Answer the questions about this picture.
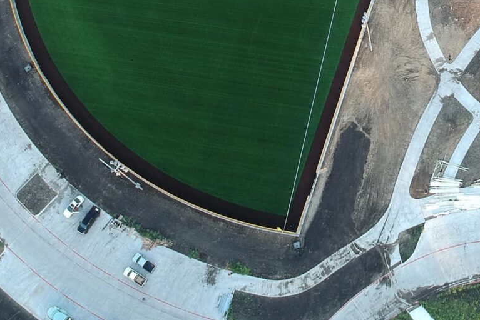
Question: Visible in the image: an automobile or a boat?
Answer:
automobile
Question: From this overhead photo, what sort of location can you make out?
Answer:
sports ground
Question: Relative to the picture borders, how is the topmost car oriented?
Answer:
on a diagonal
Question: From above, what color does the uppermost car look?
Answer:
white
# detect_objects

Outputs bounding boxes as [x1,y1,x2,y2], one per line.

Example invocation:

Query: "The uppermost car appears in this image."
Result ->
[61,192,83,219]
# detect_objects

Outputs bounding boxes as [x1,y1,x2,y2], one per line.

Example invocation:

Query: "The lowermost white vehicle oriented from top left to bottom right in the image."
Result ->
[121,265,149,288]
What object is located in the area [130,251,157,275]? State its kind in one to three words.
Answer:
truck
